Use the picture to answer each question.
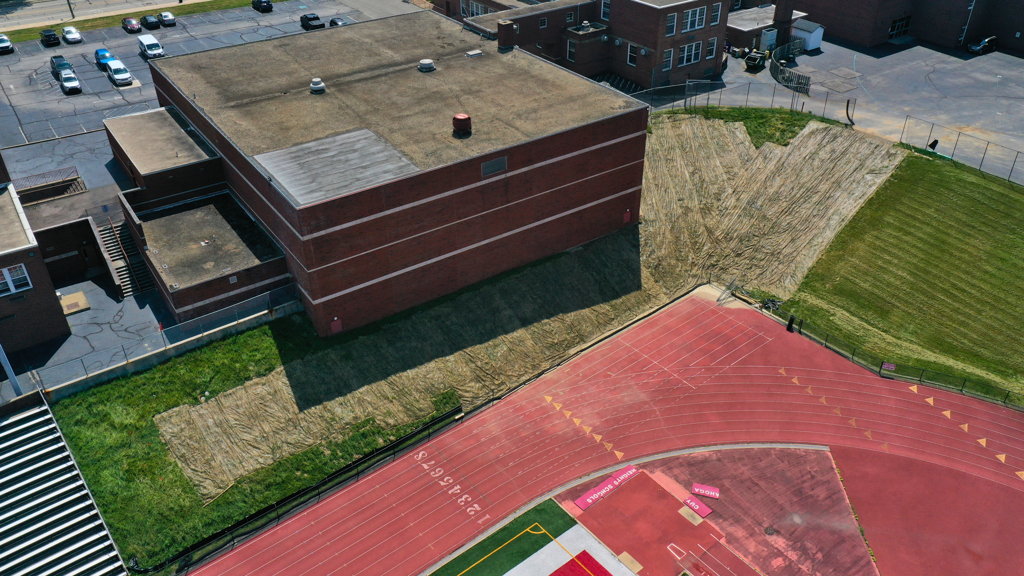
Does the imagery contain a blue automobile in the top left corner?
Yes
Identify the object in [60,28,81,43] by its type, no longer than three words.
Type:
car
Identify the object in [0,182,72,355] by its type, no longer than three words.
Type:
building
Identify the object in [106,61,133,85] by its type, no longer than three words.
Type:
vehicle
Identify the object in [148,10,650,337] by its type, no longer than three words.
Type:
building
